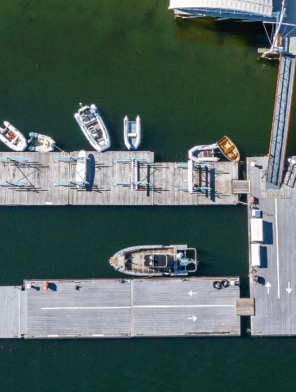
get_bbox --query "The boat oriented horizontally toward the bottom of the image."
[107,245,203,277]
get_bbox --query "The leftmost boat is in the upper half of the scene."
[0,121,28,151]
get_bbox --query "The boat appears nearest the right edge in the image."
[217,136,240,162]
